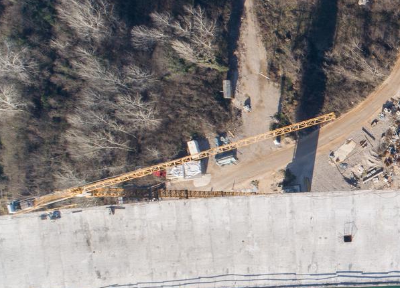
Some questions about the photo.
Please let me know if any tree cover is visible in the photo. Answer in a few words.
Yes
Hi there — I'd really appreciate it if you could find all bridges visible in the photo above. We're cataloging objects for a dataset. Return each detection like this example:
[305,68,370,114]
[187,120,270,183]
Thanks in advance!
[0,191,400,288]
